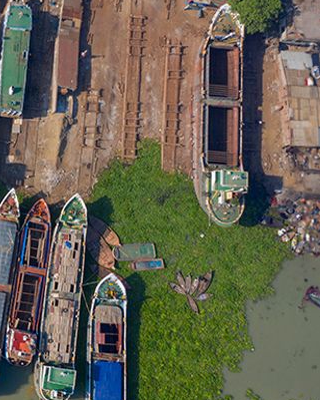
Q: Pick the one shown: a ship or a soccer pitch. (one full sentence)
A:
This aerial view contains a ship.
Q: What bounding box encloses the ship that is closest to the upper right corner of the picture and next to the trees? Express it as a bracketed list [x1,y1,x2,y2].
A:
[197,2,249,224]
